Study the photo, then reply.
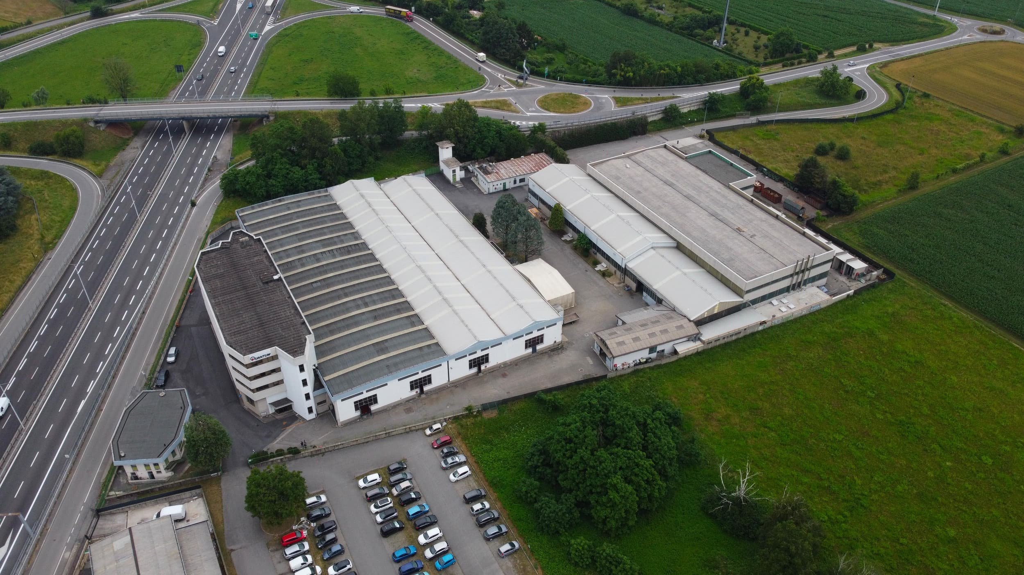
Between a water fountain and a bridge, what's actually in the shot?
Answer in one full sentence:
Of the two, only a bridge appears.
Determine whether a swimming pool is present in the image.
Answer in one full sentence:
No, there is no swimming pool in the image.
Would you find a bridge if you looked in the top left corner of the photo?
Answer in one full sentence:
Yes, a bridge appears in the top left corner of the photo.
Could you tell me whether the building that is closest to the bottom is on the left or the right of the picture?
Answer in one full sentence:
You can find the building that is closest to the bottom on the left side of the picture.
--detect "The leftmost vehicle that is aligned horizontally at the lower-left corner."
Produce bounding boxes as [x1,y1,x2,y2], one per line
[154,504,188,521]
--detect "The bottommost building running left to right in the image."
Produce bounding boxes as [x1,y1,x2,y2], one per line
[86,514,221,575]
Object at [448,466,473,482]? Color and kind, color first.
white car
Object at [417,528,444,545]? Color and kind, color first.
white car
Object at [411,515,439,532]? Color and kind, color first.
black car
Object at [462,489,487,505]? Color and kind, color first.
gray car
